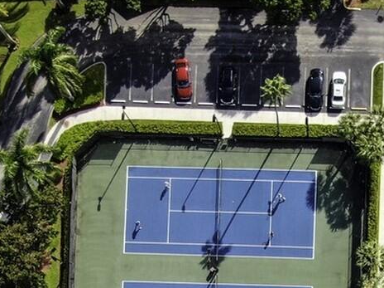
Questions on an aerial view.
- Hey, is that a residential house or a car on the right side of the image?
car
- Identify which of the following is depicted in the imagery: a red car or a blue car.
red car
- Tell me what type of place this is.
sports ground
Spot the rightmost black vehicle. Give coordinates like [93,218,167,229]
[306,71,323,111]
